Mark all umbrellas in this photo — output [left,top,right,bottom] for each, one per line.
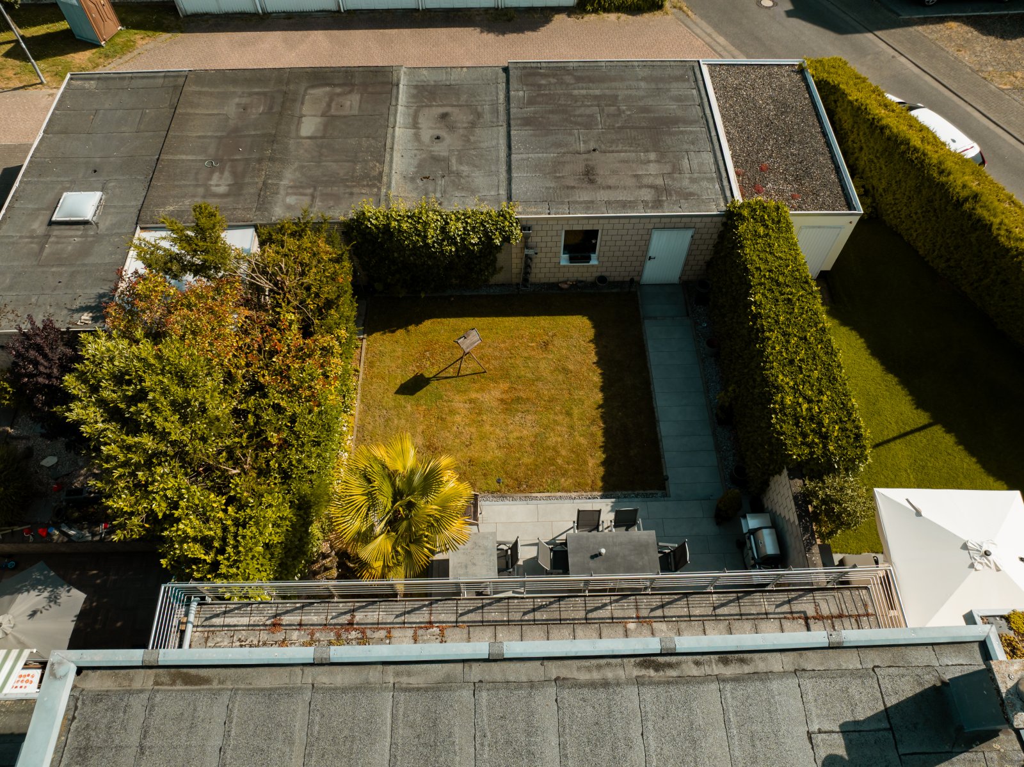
[0,555,103,661]
[866,485,1024,629]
